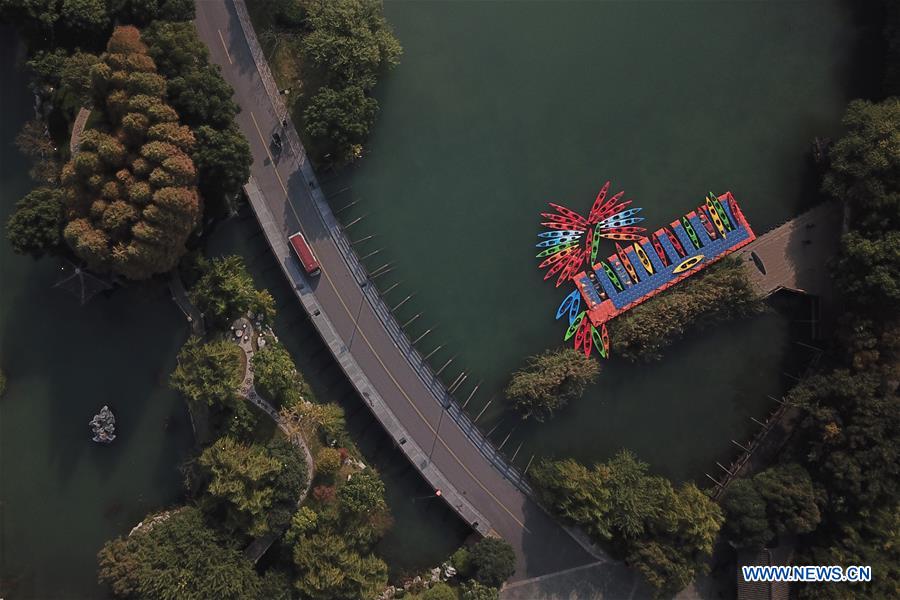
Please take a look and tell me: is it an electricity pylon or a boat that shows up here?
boat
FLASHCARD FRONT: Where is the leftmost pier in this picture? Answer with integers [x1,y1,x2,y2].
[571,192,756,325]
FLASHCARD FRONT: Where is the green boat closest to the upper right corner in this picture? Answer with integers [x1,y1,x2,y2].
[711,192,730,232]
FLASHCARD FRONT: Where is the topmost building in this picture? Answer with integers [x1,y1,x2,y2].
[54,248,113,303]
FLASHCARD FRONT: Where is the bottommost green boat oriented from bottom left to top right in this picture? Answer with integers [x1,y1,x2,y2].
[564,312,585,340]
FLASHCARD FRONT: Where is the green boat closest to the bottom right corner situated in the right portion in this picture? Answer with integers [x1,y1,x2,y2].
[591,325,606,358]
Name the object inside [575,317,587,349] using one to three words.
boat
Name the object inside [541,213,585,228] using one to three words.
boat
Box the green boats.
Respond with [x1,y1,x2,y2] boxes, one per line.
[711,192,730,232]
[591,325,606,358]
[537,242,578,257]
[592,223,600,265]
[681,218,699,249]
[564,312,585,340]
[605,260,622,291]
